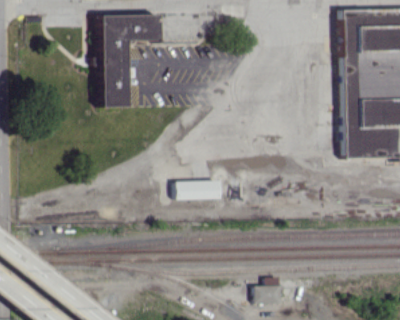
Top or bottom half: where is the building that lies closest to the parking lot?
top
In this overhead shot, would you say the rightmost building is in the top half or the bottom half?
top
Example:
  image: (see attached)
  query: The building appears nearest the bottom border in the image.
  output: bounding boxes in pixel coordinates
[250,286,282,306]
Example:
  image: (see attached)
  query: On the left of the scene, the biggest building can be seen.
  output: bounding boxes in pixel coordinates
[96,15,162,106]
